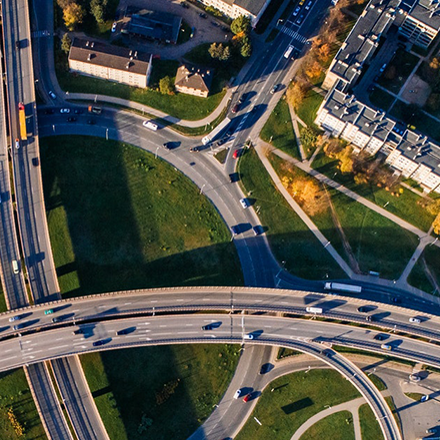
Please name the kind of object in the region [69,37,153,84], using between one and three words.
house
